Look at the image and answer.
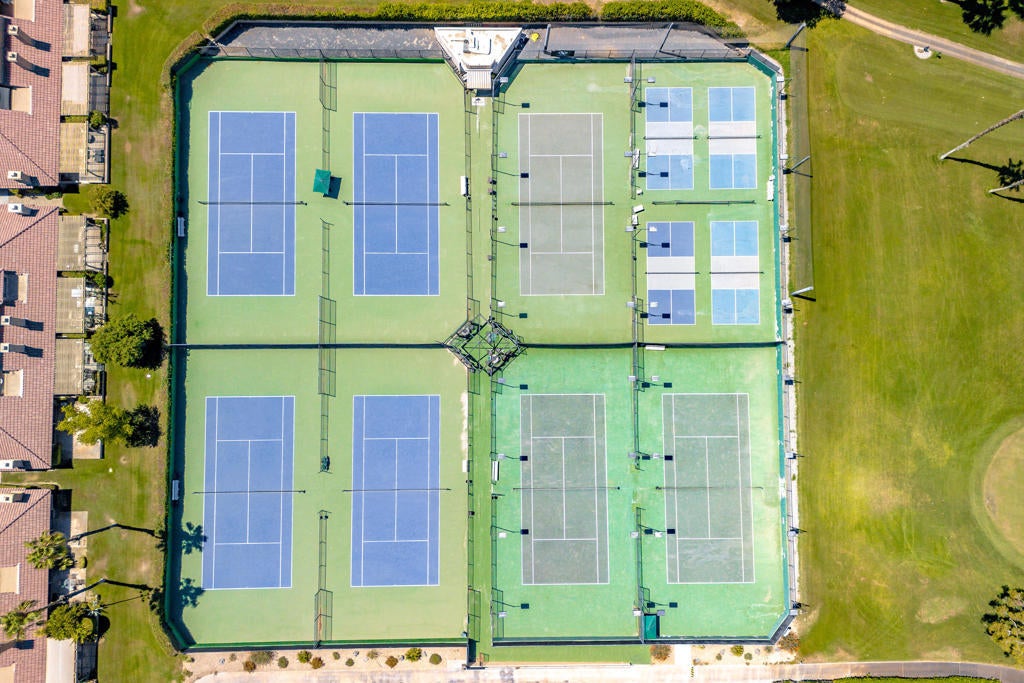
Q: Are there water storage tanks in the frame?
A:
No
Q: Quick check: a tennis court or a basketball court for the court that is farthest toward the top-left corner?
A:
tennis court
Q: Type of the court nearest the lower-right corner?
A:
tennis court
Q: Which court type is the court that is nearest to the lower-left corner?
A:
tennis court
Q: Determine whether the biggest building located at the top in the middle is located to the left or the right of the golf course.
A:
left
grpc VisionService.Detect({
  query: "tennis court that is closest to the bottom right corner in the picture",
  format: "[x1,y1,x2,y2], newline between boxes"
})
[662,394,755,584]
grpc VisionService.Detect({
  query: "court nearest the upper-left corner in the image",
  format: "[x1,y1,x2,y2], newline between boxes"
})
[207,111,296,296]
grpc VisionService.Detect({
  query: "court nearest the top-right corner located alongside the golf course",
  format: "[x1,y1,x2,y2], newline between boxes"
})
[708,87,757,189]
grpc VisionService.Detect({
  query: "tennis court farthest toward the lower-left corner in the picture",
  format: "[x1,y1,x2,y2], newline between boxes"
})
[202,396,295,590]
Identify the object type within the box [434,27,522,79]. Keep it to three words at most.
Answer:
building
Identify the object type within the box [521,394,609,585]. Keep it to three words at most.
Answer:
tennis court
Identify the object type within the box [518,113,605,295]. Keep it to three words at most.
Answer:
tennis court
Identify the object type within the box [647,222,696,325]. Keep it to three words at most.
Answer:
sports court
